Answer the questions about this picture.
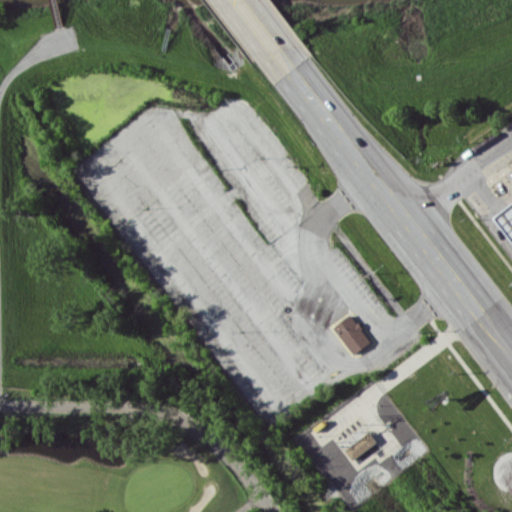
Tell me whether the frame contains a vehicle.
Yes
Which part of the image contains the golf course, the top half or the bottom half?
bottom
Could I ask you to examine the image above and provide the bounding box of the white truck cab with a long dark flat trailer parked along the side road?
[460,136,500,160]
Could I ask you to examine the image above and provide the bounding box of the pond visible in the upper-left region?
[60,72,172,150]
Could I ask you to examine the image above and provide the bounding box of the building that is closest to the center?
[336,318,370,353]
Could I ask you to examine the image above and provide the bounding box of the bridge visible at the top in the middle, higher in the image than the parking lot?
[205,0,310,93]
